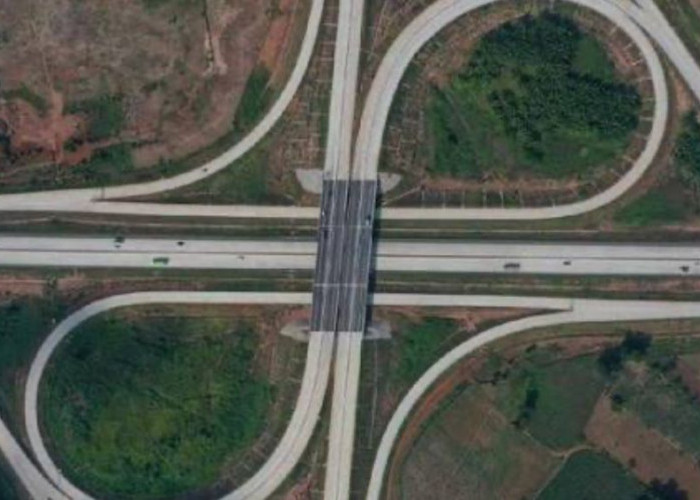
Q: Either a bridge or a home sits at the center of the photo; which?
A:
bridge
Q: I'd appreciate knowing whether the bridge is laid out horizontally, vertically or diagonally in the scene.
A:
vertically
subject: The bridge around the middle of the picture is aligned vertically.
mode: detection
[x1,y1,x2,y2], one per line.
[310,179,377,334]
